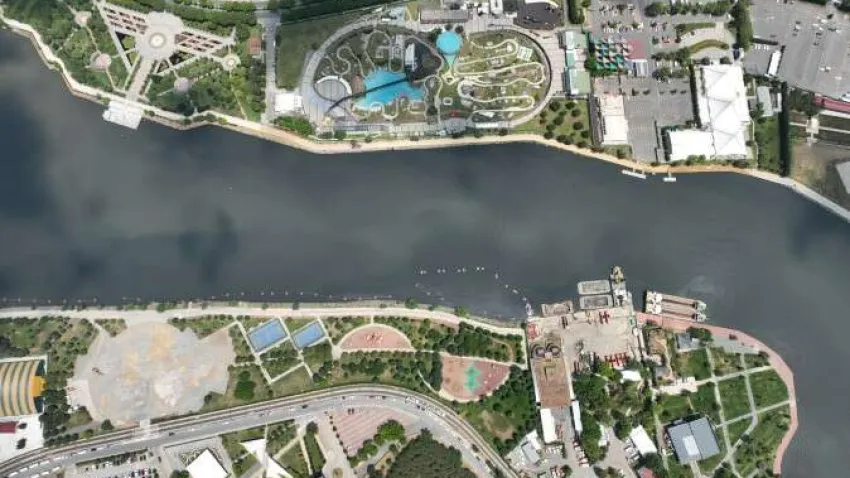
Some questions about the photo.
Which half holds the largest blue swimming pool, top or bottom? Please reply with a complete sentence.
The largest blue swimming pool sits in the top half of the picture.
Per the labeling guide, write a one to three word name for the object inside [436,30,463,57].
swimming pool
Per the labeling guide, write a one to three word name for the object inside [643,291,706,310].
ship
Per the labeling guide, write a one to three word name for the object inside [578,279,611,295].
ship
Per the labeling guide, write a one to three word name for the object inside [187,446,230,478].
building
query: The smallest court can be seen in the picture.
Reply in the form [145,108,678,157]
[291,320,325,349]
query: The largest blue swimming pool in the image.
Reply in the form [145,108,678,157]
[355,69,427,111]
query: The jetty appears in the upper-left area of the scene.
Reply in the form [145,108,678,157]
[102,100,143,130]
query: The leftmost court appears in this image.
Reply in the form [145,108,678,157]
[246,318,287,353]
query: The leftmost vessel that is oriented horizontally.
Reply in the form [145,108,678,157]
[540,300,574,317]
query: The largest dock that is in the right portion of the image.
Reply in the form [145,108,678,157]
[611,281,633,310]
